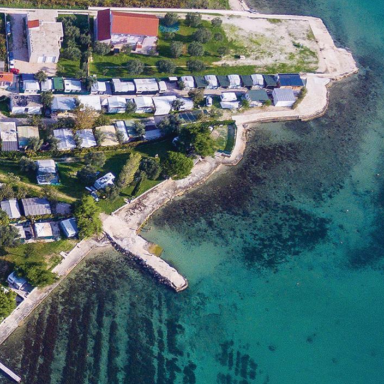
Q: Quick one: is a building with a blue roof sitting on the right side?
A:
Yes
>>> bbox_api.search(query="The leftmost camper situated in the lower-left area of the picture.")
[8,275,27,296]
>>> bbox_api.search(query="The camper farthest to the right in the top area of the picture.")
[216,93,238,113]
